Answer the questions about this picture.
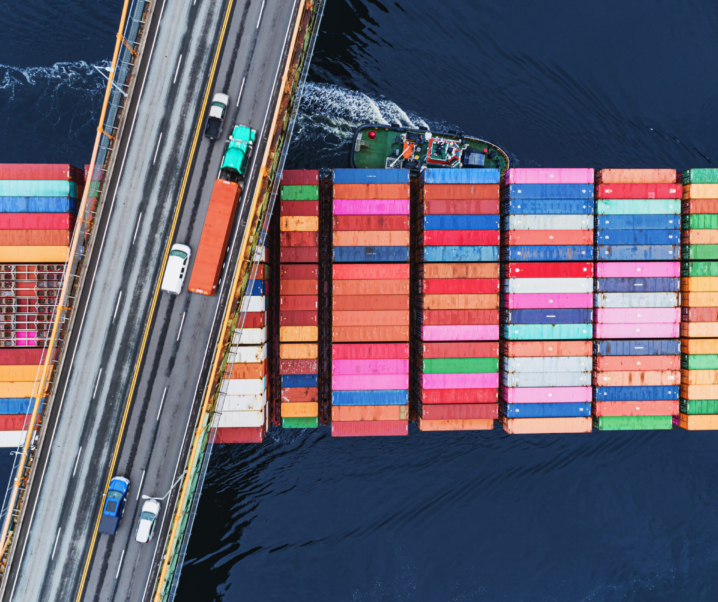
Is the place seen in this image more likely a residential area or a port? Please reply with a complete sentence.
This image shows a port.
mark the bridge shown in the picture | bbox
[0,0,328,602]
